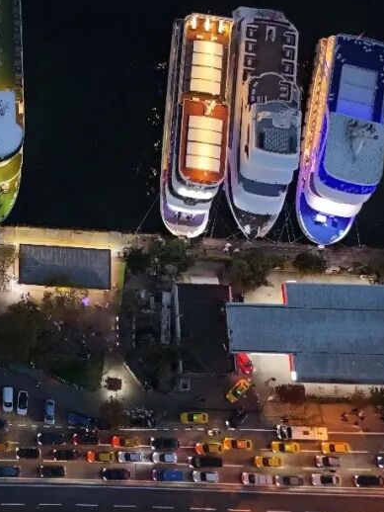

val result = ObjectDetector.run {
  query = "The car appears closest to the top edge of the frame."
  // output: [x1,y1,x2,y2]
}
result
[235,352,255,376]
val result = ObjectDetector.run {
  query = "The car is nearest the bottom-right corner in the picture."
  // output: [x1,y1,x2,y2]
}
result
[354,473,383,488]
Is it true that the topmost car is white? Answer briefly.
No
